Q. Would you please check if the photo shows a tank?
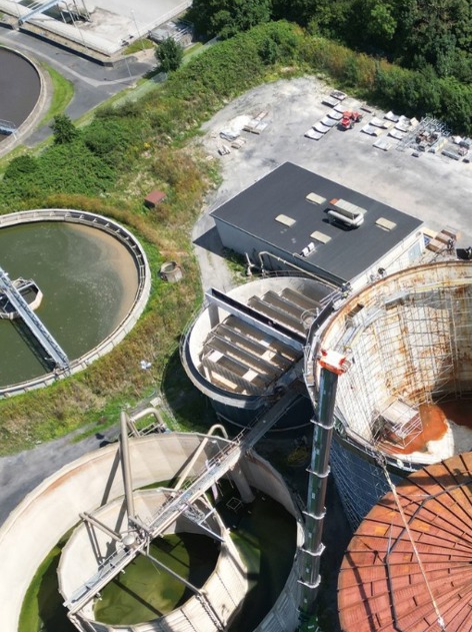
Yes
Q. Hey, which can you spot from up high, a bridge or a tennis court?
bridge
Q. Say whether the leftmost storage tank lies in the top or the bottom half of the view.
top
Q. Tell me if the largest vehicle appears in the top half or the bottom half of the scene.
top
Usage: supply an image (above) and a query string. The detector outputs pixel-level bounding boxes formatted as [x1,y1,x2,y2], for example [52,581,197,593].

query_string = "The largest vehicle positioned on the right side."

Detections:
[336,108,361,129]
